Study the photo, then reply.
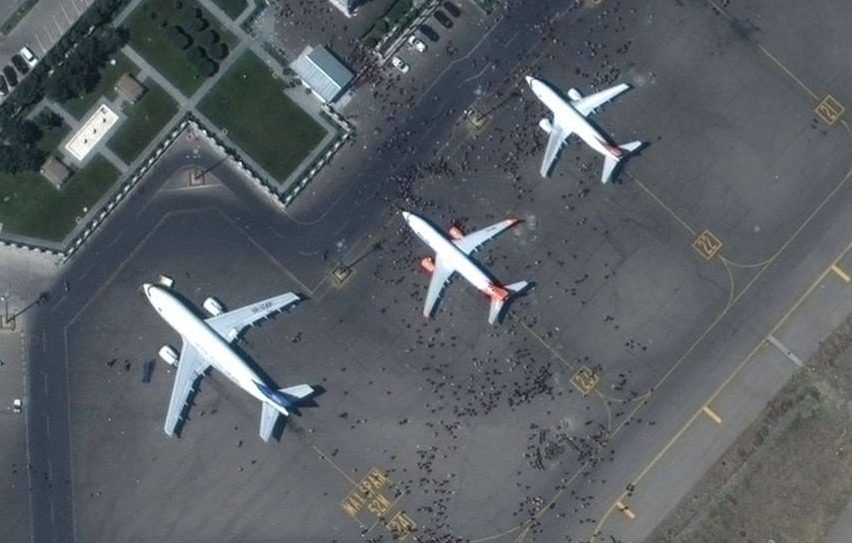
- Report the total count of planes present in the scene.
3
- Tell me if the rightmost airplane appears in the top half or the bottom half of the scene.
top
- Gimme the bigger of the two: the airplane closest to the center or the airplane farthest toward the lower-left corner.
the airplane farthest toward the lower-left corner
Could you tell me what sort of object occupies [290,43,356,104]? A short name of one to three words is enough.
building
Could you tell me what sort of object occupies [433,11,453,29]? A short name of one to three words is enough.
car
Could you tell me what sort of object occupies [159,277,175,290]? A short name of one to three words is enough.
vehicle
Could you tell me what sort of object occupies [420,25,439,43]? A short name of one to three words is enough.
car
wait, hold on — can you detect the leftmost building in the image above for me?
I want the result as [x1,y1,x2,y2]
[41,155,71,189]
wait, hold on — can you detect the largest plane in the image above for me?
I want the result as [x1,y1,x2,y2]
[142,285,315,440]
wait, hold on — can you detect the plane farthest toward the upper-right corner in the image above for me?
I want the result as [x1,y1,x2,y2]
[526,77,642,183]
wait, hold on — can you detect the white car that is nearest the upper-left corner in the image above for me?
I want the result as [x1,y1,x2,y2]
[20,47,37,67]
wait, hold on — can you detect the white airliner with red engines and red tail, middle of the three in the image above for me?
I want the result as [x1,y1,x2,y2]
[403,212,530,323]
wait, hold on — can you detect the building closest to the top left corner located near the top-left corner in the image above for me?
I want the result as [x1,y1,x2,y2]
[113,72,145,106]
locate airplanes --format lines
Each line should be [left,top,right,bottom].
[526,77,642,183]
[142,285,315,440]
[403,212,530,323]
